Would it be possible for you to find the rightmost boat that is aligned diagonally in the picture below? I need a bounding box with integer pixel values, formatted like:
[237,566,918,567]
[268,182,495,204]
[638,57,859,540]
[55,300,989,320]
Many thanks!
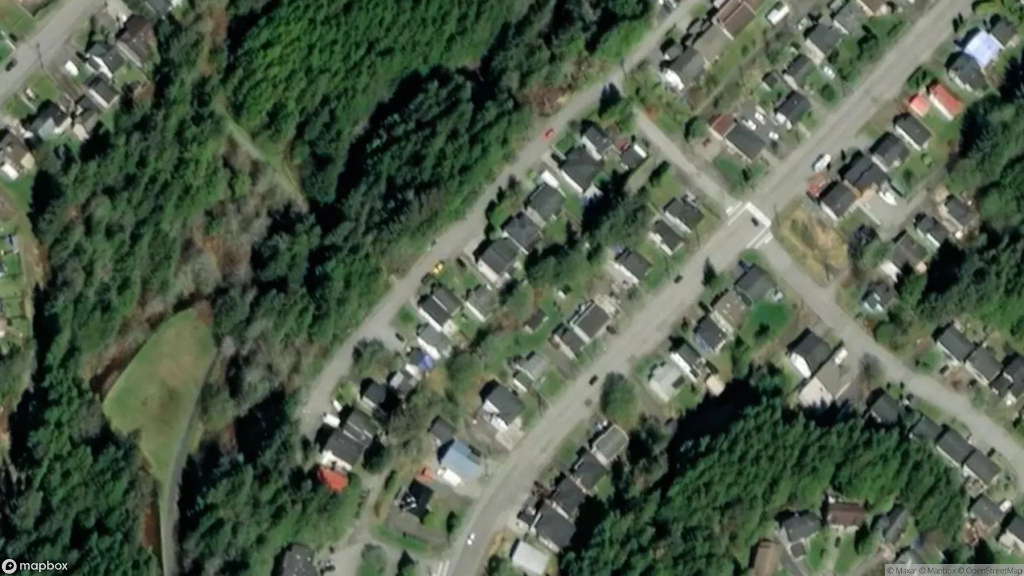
[879,189,898,206]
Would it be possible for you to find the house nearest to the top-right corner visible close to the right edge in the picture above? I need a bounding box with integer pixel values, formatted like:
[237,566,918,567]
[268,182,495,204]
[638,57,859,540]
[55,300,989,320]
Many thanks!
[990,20,1019,52]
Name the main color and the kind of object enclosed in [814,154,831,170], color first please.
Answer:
white camper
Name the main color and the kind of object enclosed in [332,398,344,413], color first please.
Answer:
white vehicle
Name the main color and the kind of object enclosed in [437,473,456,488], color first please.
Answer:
white vehicle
